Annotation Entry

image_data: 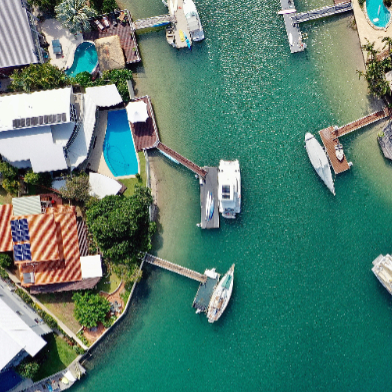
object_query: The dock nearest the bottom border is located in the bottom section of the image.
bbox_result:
[192,273,221,313]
